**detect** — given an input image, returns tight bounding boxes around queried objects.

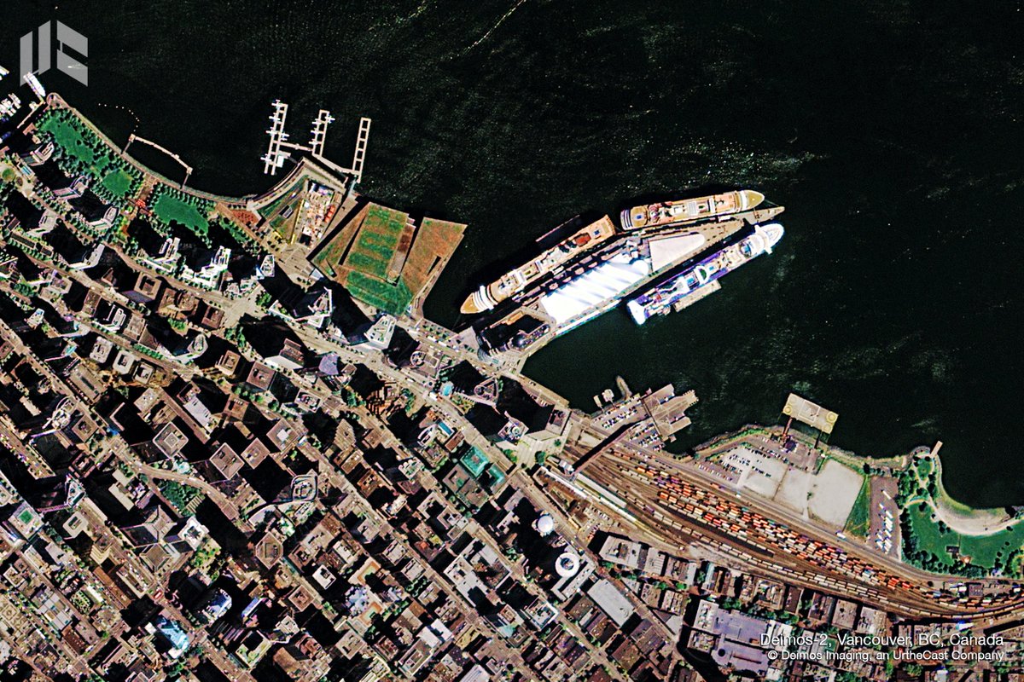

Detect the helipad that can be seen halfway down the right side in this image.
[782,393,838,434]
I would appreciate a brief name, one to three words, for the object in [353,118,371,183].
pier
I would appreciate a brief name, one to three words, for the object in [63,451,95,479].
building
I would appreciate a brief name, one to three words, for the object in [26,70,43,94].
boat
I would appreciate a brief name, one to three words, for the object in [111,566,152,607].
building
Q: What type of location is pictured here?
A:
port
